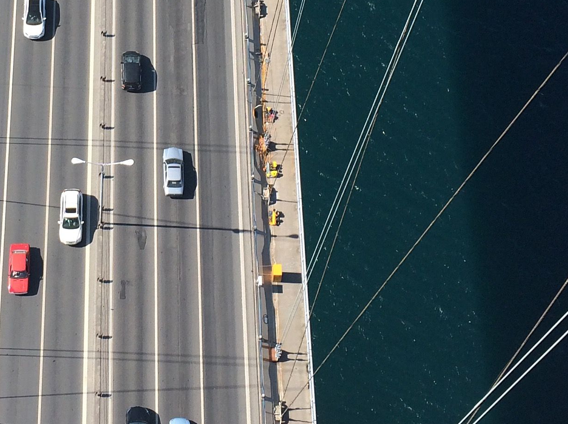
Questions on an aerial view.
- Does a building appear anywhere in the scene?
No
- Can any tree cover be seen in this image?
No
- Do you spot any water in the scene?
Yes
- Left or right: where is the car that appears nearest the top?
left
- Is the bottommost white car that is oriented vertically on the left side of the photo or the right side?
left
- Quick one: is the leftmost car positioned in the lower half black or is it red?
red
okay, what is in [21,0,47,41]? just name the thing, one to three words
car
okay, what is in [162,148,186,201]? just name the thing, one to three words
car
